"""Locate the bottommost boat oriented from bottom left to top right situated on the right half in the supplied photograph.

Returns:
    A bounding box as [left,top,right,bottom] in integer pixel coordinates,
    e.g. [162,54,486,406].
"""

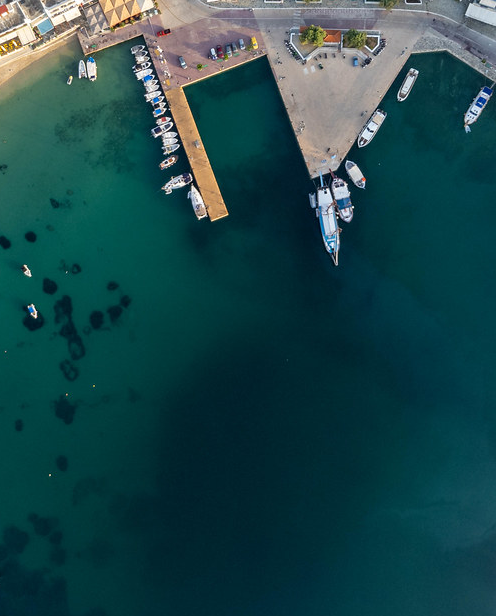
[358,109,389,146]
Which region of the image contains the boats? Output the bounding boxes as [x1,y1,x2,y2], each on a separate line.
[161,145,179,155]
[87,57,97,82]
[466,79,494,125]
[134,51,148,59]
[358,109,389,146]
[28,302,36,318]
[155,118,171,125]
[141,75,154,83]
[152,103,166,110]
[133,64,150,72]
[134,70,152,80]
[310,193,316,210]
[346,160,365,189]
[163,170,194,189]
[134,57,150,64]
[21,264,30,277]
[397,68,419,102]
[152,109,166,117]
[150,97,164,104]
[144,92,161,101]
[161,138,178,145]
[329,168,352,222]
[143,80,158,88]
[159,157,177,169]
[144,86,159,93]
[161,132,177,139]
[192,184,209,221]
[130,46,145,55]
[79,59,86,80]
[151,124,172,139]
